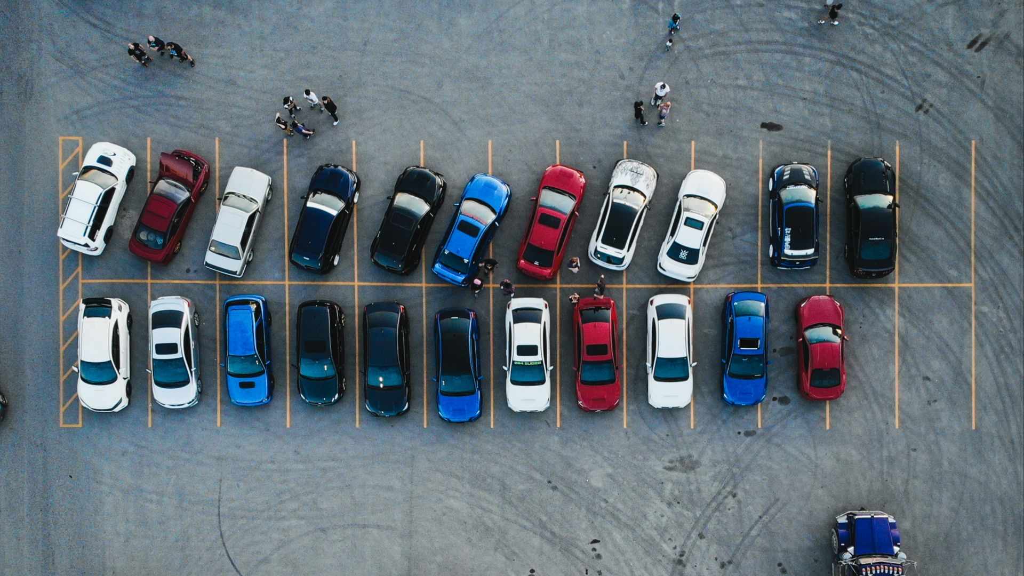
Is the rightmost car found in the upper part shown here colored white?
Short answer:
No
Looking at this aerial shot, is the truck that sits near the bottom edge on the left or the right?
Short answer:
right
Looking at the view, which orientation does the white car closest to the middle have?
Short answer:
up and down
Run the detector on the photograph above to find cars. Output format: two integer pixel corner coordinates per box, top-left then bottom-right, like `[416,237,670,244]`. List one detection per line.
[73,296,134,411]
[143,293,203,410]
[431,173,509,286]
[130,154,208,263]
[500,297,556,412]
[795,294,852,401]
[644,293,699,409]
[203,161,275,275]
[369,167,443,277]
[720,289,775,406]
[430,307,485,424]
[288,167,359,275]
[219,294,275,406]
[654,168,726,284]
[292,298,348,407]
[769,161,826,272]
[513,164,584,280]
[588,159,657,269]
[570,296,626,411]
[357,301,413,418]
[52,140,136,253]
[0,387,8,417]
[844,157,905,278]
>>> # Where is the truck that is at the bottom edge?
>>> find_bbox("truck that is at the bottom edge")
[830,508,926,576]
